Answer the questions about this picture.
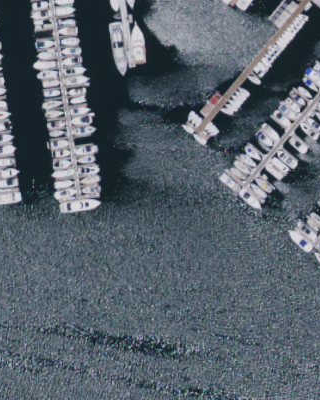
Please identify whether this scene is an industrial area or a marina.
marina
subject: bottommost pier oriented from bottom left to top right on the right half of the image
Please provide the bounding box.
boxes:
[224,72,320,196]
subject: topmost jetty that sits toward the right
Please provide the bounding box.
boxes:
[195,0,311,134]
